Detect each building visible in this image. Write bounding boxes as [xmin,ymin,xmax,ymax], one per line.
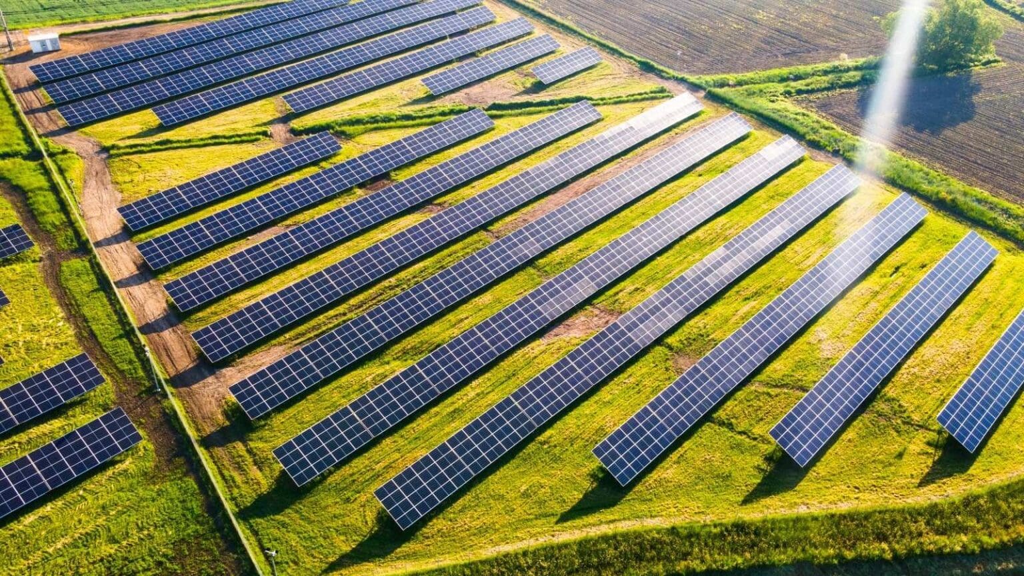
[27,31,62,53]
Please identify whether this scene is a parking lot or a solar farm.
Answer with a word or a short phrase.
solar farm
